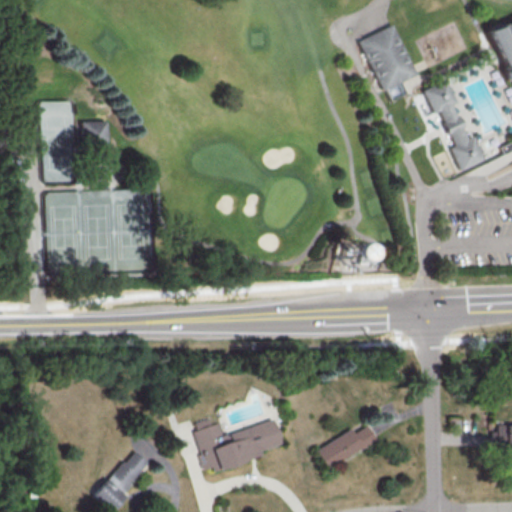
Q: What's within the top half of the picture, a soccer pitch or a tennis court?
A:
tennis court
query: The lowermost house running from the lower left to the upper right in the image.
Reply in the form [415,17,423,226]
[96,451,148,505]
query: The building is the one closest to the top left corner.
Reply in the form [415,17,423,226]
[80,122,110,148]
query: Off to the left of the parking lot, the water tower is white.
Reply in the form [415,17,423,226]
[362,240,388,265]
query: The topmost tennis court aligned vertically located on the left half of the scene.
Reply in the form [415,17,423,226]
[38,100,76,184]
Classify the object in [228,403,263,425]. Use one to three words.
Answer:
swimming pool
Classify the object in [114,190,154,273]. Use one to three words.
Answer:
tennis court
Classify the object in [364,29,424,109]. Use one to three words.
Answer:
building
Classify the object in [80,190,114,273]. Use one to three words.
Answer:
tennis court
